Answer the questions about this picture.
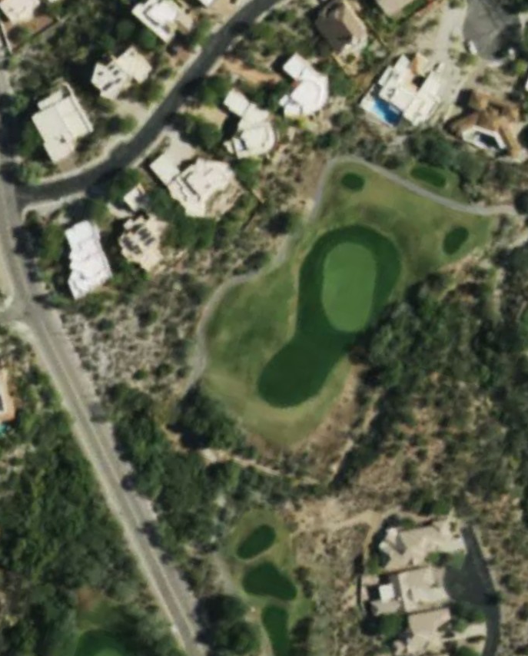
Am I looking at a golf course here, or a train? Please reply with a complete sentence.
There is a golf course in the scene.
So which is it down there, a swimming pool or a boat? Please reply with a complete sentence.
The one in the frame is a swimming pool.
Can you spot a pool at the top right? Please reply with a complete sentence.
Yes, a pool is visible at the top right.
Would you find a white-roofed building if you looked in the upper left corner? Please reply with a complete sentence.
Yes, a white-roofed building can be seen in the upper left corner.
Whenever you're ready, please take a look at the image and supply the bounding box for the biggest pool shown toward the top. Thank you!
[371,96,404,126]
